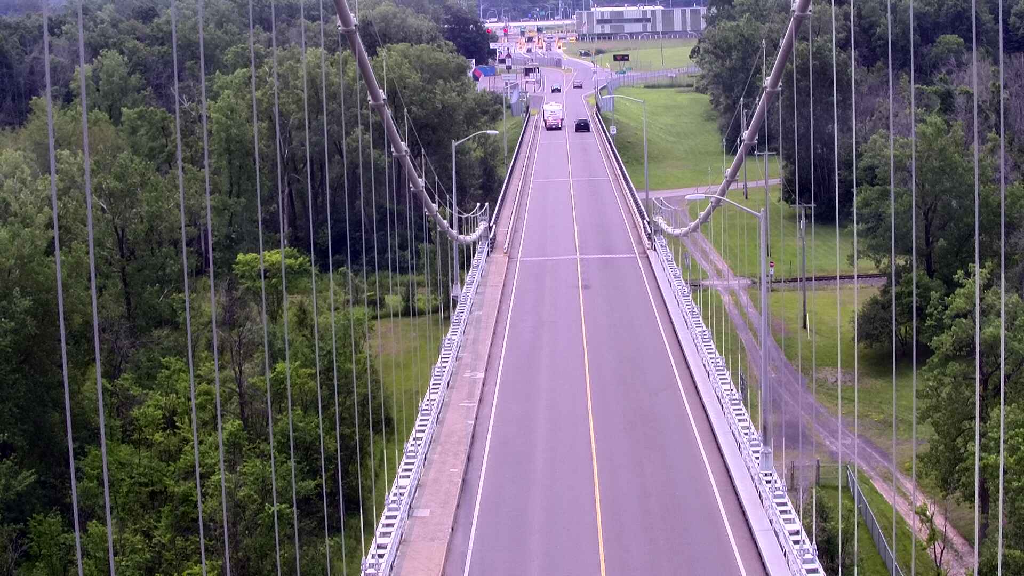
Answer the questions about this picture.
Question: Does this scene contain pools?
No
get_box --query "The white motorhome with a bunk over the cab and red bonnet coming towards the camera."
[542,99,565,130]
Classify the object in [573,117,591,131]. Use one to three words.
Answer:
car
